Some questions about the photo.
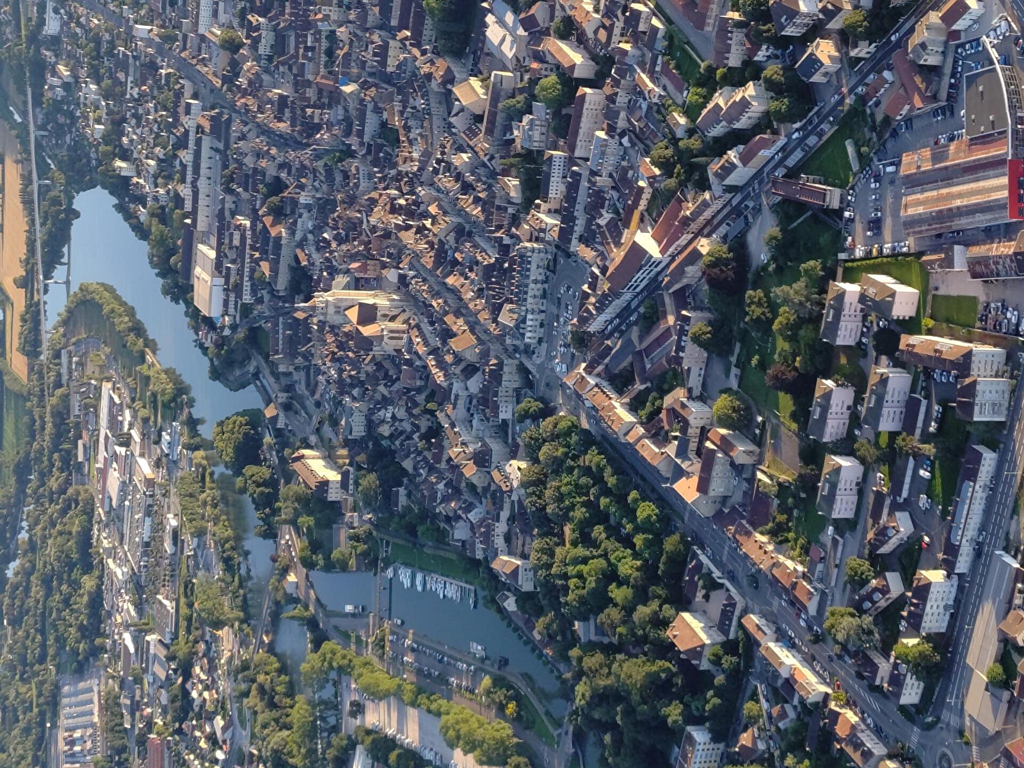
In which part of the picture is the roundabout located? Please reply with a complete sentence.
The roundabout sits in the bottom right section of the image.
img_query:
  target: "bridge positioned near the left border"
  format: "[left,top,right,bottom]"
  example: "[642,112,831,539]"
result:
[23,0,59,436]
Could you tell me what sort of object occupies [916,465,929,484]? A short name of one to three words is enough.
vehicle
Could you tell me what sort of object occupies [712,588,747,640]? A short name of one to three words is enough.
house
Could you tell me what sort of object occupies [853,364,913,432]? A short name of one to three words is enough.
building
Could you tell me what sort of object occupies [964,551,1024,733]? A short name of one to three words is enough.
building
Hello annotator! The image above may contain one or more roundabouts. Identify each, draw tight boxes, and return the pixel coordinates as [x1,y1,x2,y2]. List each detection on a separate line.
[907,707,984,768]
